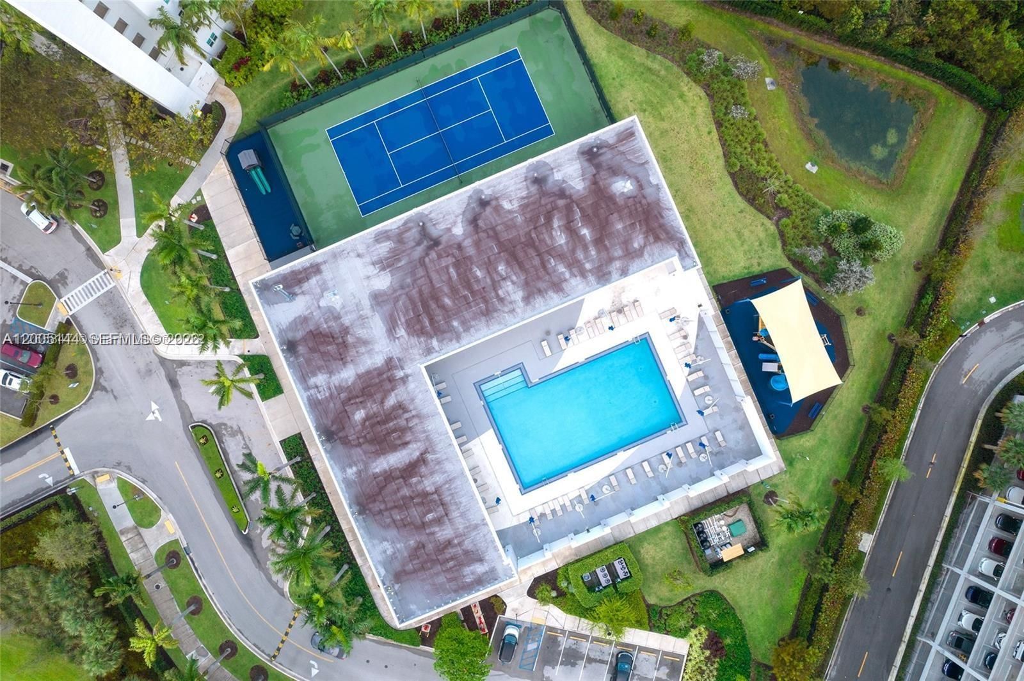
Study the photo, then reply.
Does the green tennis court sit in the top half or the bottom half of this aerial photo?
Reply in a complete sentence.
Seen from above, the green tennis court lies in the top half of the view.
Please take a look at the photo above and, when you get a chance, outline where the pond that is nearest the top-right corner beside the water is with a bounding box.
[766,38,916,182]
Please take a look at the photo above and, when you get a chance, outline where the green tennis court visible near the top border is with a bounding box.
[267,8,640,254]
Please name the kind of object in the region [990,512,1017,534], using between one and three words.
car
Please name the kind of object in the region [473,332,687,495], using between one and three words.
swimming pool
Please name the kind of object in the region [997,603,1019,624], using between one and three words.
car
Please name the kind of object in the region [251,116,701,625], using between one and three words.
building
